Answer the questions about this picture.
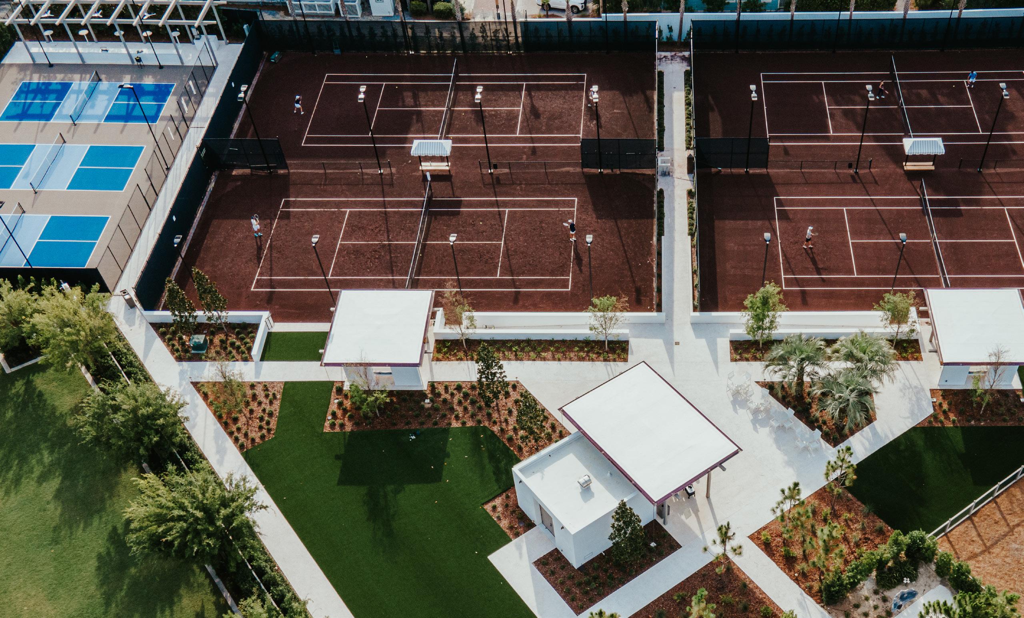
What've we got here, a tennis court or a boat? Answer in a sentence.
This aerial view contains a tennis court.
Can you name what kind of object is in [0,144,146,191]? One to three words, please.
sports court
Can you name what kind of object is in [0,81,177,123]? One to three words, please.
sports court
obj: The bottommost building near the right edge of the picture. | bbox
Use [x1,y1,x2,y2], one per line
[920,287,1024,389]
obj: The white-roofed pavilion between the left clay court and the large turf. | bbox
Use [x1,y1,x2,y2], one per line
[320,288,440,390]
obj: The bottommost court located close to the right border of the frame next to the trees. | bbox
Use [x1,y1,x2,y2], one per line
[696,169,1024,322]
